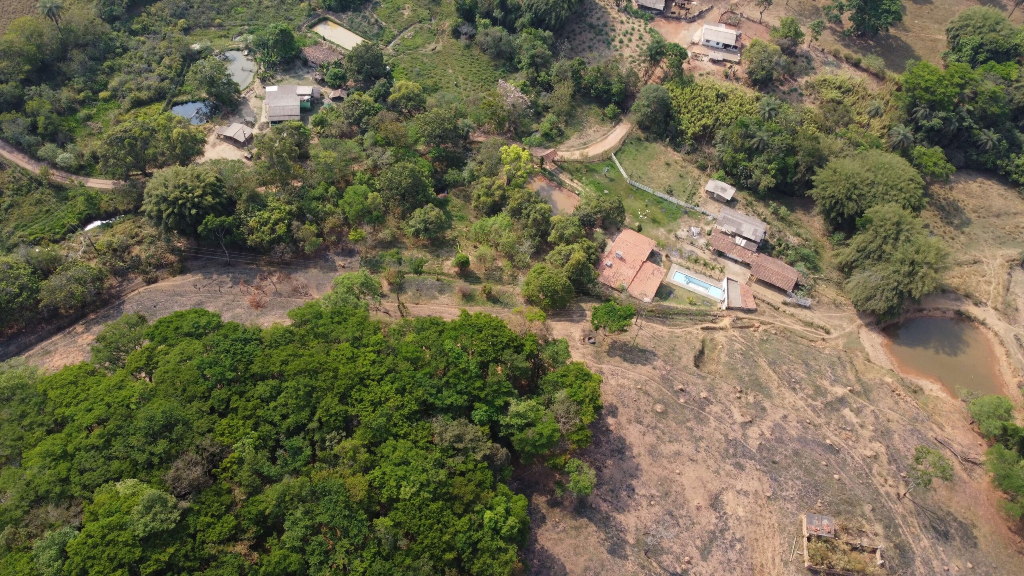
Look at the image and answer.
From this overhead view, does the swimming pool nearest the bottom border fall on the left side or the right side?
right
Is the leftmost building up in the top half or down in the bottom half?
top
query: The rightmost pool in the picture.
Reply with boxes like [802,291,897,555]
[665,263,724,303]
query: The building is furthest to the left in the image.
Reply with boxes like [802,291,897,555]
[216,123,254,149]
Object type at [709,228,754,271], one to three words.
building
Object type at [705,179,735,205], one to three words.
shed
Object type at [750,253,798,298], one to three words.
barn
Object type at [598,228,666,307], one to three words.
house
